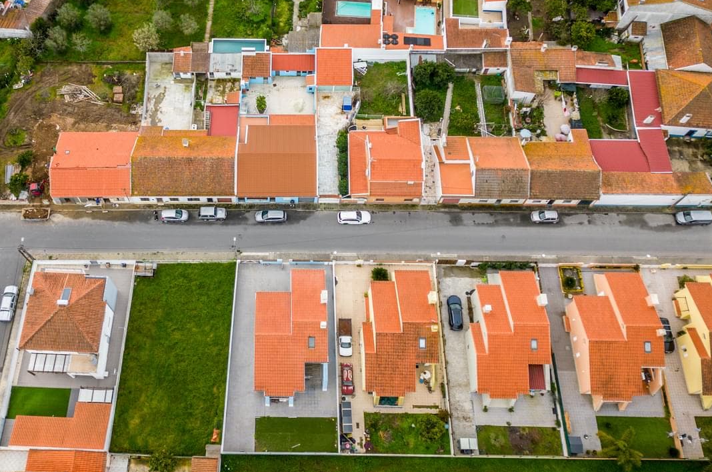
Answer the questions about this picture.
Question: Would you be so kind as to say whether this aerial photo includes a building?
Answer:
Yes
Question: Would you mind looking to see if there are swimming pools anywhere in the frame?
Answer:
Yes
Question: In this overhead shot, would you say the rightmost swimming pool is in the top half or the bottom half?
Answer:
top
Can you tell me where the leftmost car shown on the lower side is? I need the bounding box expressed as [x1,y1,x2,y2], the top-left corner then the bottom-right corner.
[0,283,19,323]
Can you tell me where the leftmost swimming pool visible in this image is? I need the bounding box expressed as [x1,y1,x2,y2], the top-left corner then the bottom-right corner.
[210,39,268,53]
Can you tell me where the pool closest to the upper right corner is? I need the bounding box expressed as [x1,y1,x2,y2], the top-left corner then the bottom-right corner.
[413,6,436,34]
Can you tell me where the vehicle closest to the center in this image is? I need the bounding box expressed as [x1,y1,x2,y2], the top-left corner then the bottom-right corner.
[338,208,371,226]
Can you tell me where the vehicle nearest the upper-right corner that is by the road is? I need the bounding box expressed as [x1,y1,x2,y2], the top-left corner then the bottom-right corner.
[673,207,712,227]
